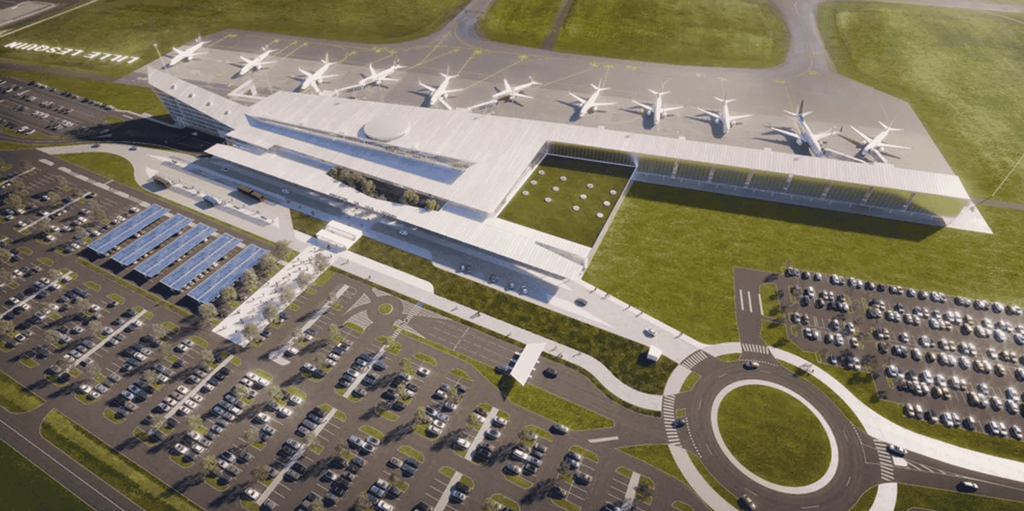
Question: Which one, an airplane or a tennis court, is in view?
airplane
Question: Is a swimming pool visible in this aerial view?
No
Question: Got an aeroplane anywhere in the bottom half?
No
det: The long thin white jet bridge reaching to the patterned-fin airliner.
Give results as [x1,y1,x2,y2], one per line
[334,82,367,98]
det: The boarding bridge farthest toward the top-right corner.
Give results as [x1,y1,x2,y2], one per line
[868,146,890,166]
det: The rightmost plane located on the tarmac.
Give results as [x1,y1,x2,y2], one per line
[852,118,911,155]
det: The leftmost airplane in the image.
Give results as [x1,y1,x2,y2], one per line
[168,32,210,65]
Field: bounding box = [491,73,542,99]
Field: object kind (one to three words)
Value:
airplane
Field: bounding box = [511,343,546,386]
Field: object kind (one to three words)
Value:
toll station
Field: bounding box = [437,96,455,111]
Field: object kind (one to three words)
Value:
jet bridge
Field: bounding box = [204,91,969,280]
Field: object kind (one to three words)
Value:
building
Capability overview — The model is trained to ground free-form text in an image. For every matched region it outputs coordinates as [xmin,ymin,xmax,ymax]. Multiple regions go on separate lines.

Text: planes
[570,78,618,117]
[852,118,911,155]
[238,42,278,75]
[770,97,842,157]
[698,89,753,134]
[168,32,210,65]
[491,73,542,99]
[632,85,684,125]
[300,53,340,89]
[420,66,465,105]
[357,56,406,84]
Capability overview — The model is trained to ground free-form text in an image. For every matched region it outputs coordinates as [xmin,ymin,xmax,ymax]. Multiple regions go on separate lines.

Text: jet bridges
[868,146,890,166]
[334,82,367,98]
[466,97,500,112]
[437,96,455,111]
[824,145,868,163]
